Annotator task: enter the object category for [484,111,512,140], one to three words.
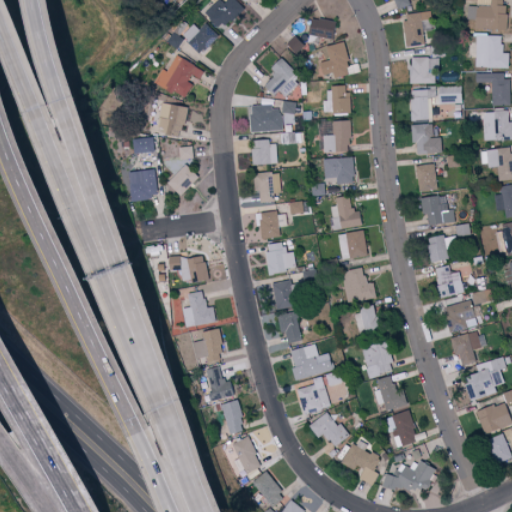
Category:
house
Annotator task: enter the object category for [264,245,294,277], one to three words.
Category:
house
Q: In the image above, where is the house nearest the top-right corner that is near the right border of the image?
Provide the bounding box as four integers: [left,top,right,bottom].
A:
[468,0,508,32]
